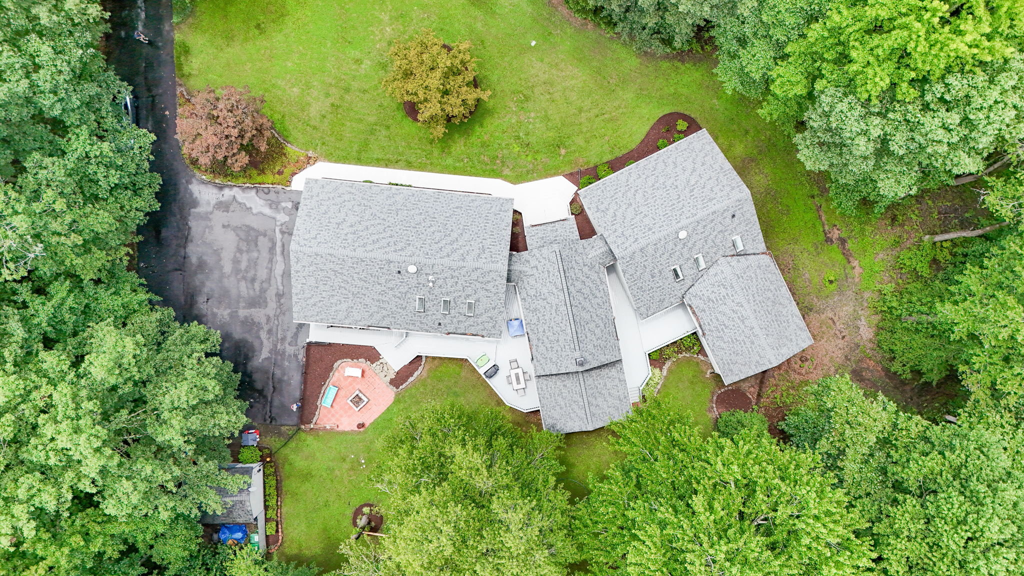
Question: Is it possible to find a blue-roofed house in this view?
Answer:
No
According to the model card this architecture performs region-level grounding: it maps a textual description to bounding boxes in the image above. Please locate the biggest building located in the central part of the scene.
[291,127,815,431]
